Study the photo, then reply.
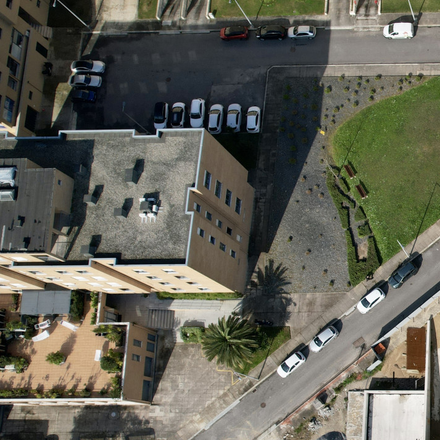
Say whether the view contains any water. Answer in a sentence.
No, there's no water in this view.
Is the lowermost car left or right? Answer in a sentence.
The lowermost car sits on the right side.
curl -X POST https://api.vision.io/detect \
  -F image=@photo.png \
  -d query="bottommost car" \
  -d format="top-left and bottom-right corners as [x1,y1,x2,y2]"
[277,350,308,379]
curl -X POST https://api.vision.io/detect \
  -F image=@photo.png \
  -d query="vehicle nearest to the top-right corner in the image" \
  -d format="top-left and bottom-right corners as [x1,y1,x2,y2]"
[384,21,415,39]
